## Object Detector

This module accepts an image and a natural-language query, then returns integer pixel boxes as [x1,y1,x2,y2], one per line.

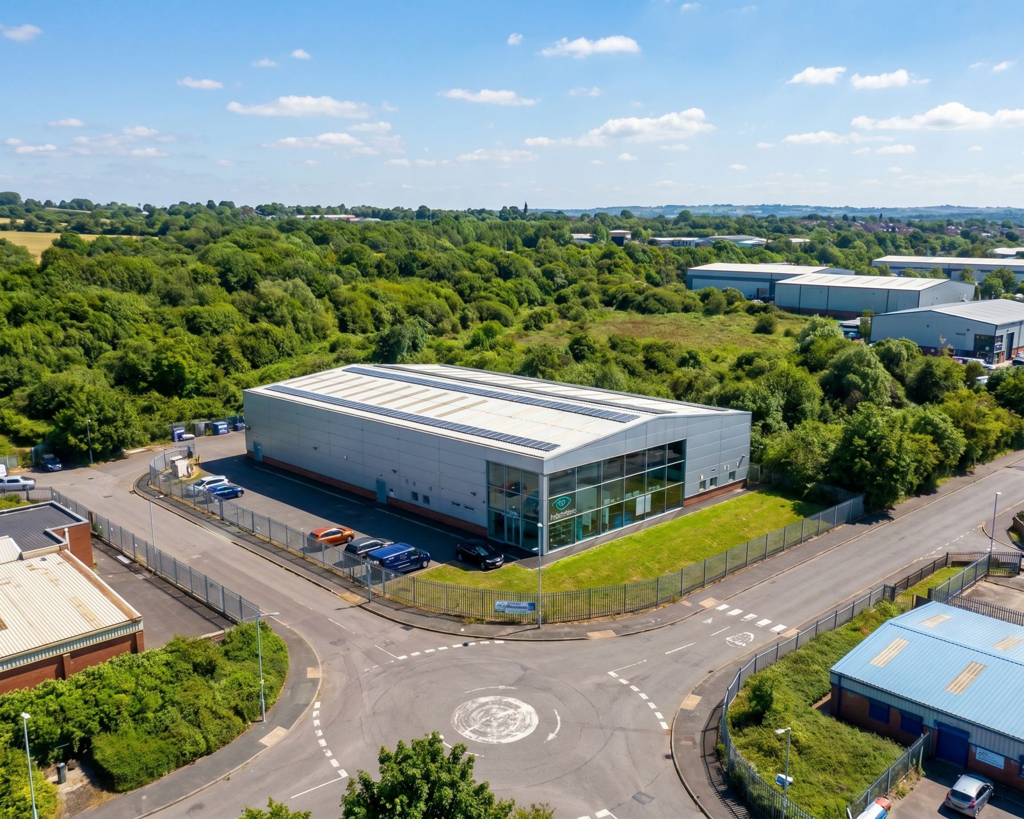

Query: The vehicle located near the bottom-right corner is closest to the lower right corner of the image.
[934,763,1005,814]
